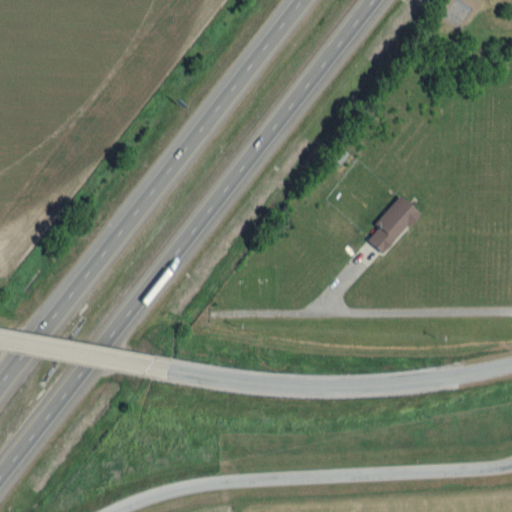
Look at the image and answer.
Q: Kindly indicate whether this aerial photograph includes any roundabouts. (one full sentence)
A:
No, there's no roundabout here.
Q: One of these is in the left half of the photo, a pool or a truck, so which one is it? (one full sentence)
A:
You can see a truck in the left half of the photo.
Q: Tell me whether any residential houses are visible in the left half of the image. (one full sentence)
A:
No, in the left half of the image there is no residential house.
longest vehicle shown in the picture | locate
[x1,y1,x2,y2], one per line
[141,259,182,308]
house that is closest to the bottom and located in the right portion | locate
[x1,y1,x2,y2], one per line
[367,195,422,254]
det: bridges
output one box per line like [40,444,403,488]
[0,328,173,382]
